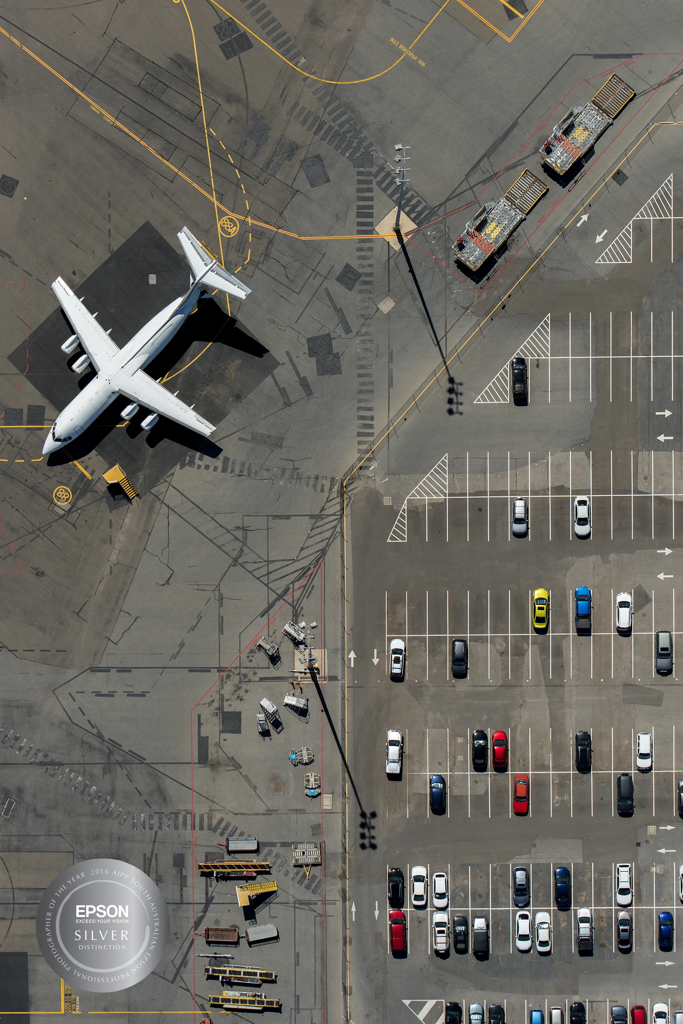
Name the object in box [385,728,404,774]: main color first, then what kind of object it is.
white vehicle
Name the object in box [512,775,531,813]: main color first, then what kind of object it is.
red car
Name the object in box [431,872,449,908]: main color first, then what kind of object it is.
white car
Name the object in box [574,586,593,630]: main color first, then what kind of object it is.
blue vehicle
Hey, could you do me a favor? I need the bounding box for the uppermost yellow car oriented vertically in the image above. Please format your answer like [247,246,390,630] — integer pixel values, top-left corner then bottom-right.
[531,588,550,629]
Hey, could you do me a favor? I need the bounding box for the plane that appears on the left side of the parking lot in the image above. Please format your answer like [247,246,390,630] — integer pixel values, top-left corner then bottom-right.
[42,226,253,455]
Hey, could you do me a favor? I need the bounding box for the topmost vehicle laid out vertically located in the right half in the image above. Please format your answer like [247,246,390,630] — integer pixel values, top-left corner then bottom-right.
[510,358,529,399]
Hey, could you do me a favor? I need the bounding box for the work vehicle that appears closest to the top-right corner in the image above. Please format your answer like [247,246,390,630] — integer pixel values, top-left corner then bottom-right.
[541,76,639,176]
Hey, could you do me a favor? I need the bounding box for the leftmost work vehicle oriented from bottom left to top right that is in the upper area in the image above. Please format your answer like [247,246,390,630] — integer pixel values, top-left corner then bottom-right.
[453,173,551,273]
